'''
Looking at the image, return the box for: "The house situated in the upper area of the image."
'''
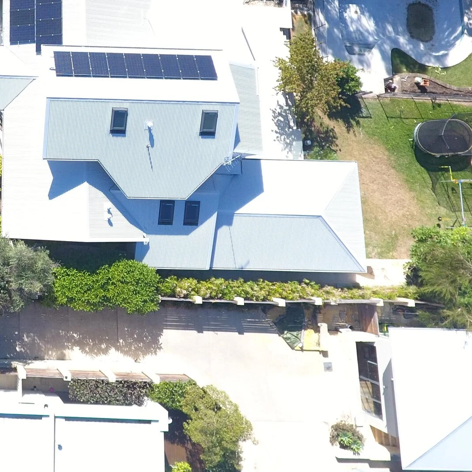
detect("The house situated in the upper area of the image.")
[0,0,368,275]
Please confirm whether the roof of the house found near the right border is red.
No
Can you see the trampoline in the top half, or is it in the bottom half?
top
